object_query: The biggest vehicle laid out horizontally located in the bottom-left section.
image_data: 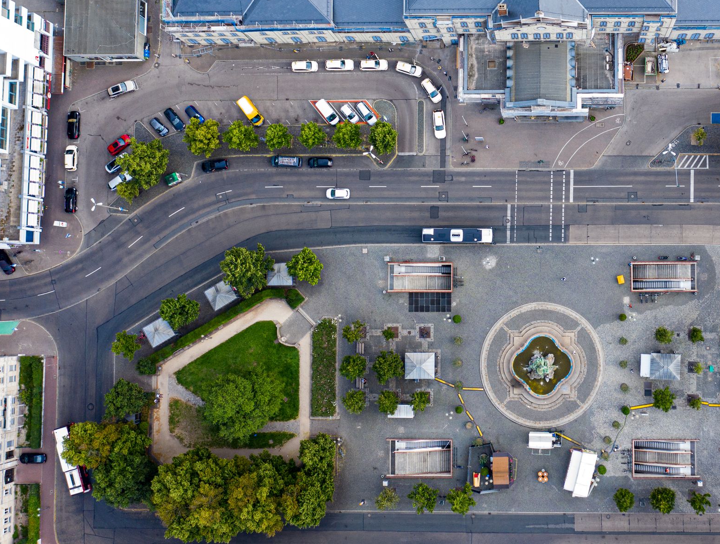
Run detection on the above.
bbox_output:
[20,453,47,465]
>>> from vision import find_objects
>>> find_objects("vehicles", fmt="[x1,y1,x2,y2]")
[325,58,354,70]
[201,159,230,173]
[52,424,89,495]
[394,60,423,79]
[106,80,138,97]
[65,146,79,171]
[185,104,206,125]
[272,154,303,167]
[106,134,132,157]
[163,106,186,133]
[291,59,318,72]
[20,453,47,465]
[66,111,81,139]
[326,187,350,200]
[106,173,127,192]
[0,252,16,275]
[314,97,340,126]
[62,187,79,213]
[355,100,377,126]
[432,110,446,139]
[359,53,388,70]
[148,115,170,137]
[340,103,359,122]
[309,156,333,169]
[422,230,495,247]
[421,77,443,104]
[238,94,263,127]
[104,154,125,173]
